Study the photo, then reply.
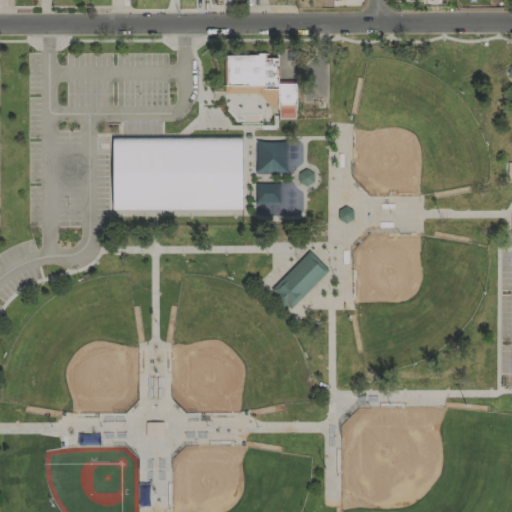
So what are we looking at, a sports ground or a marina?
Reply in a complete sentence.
This image shows a sports ground.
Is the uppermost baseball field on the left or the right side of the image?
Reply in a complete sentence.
The uppermost baseball field is on the right side of the image.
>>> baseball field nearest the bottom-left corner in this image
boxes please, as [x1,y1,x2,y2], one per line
[46,447,139,512]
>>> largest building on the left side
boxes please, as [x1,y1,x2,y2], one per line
[113,138,243,211]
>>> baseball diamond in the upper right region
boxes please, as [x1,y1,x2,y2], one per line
[352,58,491,198]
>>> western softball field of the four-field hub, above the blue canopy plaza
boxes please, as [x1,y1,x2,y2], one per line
[0,273,144,417]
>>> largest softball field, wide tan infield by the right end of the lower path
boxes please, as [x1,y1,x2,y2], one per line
[342,402,512,512]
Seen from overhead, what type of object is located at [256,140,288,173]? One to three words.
building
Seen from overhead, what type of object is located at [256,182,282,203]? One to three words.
building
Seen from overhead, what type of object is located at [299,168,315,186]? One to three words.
gazebo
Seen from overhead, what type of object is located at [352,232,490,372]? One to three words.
baseball field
